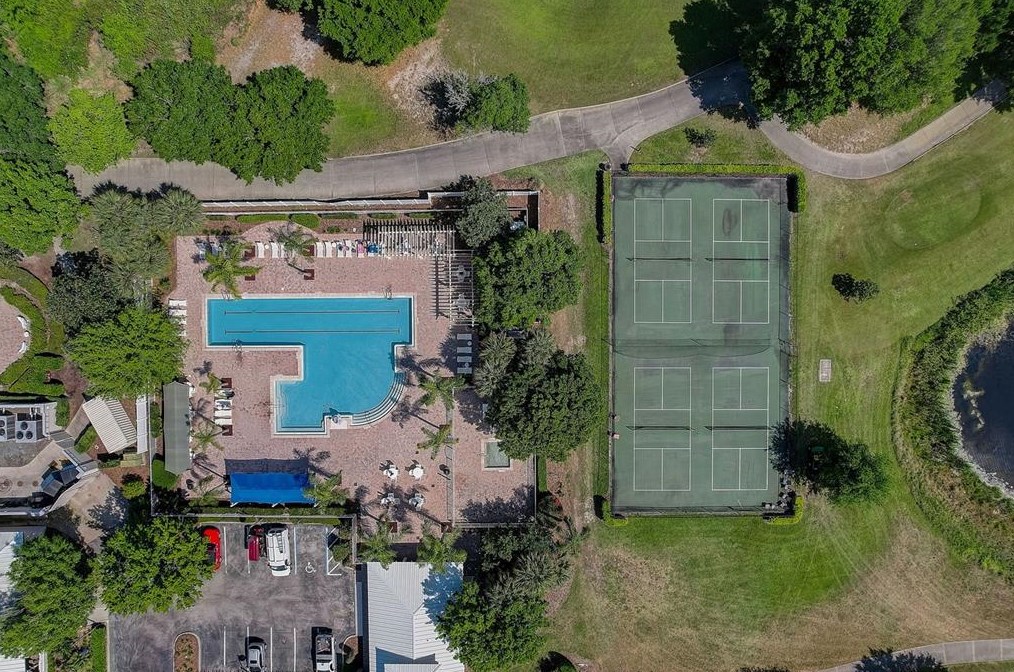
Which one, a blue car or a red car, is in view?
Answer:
red car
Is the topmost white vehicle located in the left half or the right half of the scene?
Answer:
left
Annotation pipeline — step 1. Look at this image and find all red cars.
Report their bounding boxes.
[199,528,220,572]
[247,526,268,566]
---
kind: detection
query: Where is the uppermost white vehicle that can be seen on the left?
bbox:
[263,528,289,578]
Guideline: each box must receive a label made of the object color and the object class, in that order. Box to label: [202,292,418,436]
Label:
blue swimming pool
